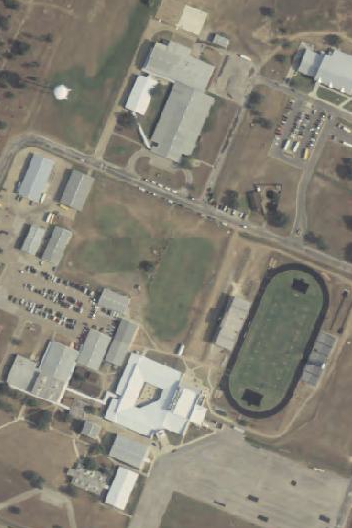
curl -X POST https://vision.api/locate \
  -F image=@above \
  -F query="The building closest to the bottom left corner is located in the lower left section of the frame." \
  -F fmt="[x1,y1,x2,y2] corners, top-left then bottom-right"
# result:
[68,469,108,496]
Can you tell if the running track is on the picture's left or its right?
right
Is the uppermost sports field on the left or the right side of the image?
left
